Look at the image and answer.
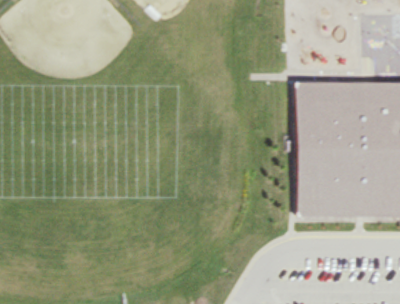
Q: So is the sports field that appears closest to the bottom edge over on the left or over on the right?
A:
left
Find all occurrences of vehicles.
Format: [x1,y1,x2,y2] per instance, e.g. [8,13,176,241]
[374,258,379,269]
[372,271,380,282]
[324,258,330,270]
[288,270,298,280]
[318,270,326,282]
[304,270,312,280]
[386,258,392,269]
[366,272,376,284]
[332,270,342,282]
[356,257,362,268]
[362,258,368,270]
[306,258,310,270]
[318,258,323,269]
[342,258,348,270]
[386,270,396,281]
[357,270,366,280]
[348,271,358,282]
[332,259,337,270]
[278,268,287,279]
[324,271,333,282]
[296,270,305,281]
